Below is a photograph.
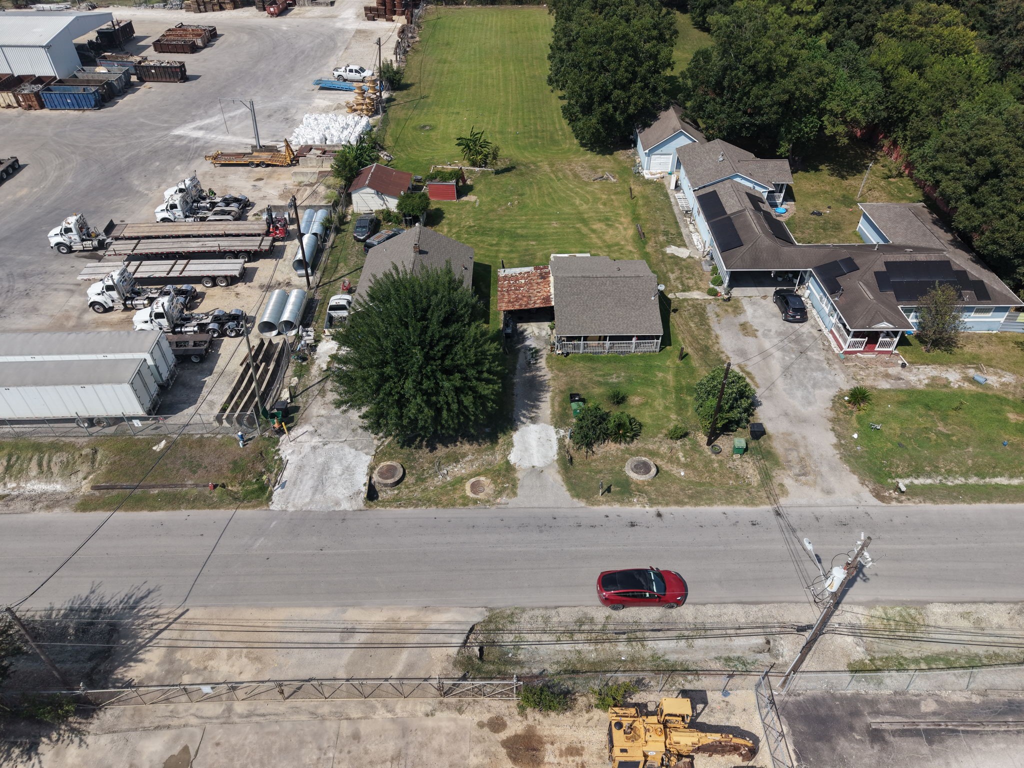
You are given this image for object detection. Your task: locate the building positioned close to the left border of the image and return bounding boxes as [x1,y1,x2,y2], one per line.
[0,11,115,77]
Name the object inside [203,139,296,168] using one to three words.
trailer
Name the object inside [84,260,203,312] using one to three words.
truck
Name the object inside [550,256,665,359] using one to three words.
house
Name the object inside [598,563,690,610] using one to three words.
car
